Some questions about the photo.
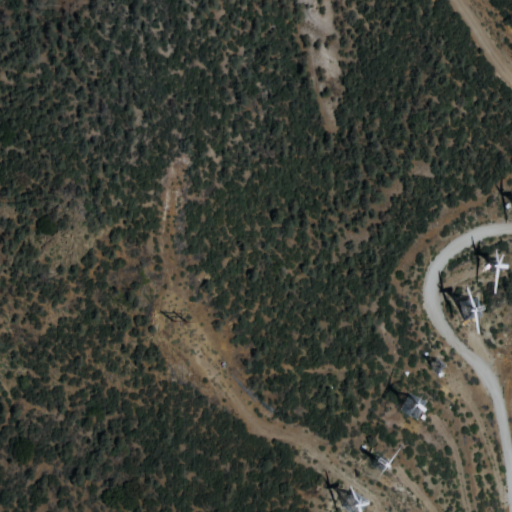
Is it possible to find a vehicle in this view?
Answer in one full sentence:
No, no vehicle is visible in the view.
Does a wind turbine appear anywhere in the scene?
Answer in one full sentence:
Yes, there's a wind turbine here.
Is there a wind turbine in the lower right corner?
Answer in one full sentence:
Yes, there is a wind turbine in the lower right corner.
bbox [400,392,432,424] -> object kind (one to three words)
wind turbine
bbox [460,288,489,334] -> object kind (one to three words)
wind turbine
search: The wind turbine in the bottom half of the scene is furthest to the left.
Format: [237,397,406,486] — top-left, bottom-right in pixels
[343,484,372,512]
